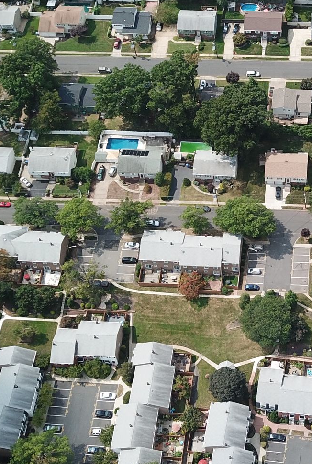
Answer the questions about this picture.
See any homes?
Yes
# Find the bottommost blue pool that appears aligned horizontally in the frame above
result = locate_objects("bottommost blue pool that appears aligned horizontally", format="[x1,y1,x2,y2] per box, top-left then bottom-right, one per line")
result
[104,137,140,149]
